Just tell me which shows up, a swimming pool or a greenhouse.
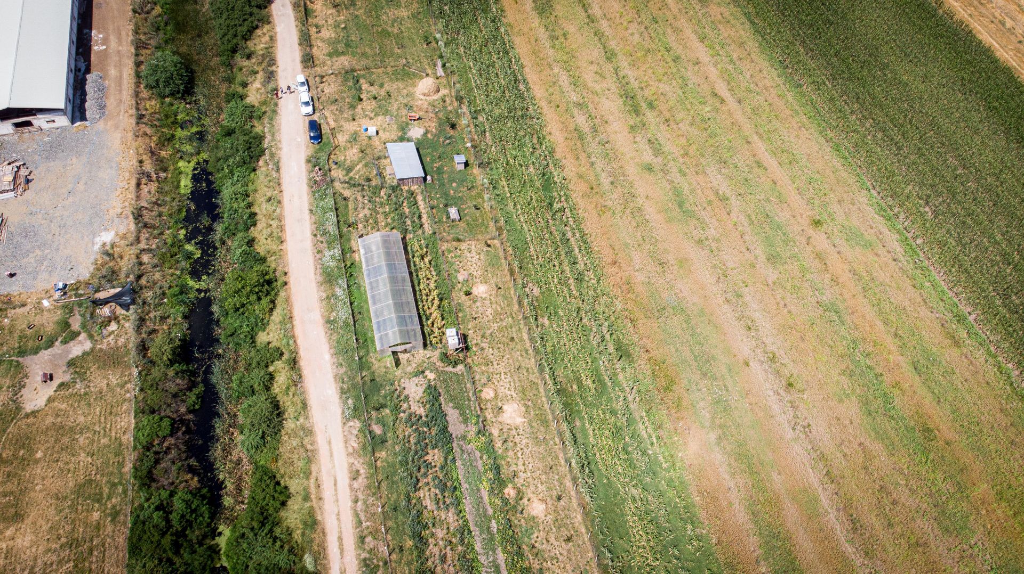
greenhouse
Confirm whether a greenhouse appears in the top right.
No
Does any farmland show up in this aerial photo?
Yes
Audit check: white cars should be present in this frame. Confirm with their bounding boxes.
[299,91,312,112]
[291,71,309,92]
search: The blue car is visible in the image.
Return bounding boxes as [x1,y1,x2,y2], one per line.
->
[307,118,321,140]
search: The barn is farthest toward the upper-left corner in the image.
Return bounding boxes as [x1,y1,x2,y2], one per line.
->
[0,0,78,137]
